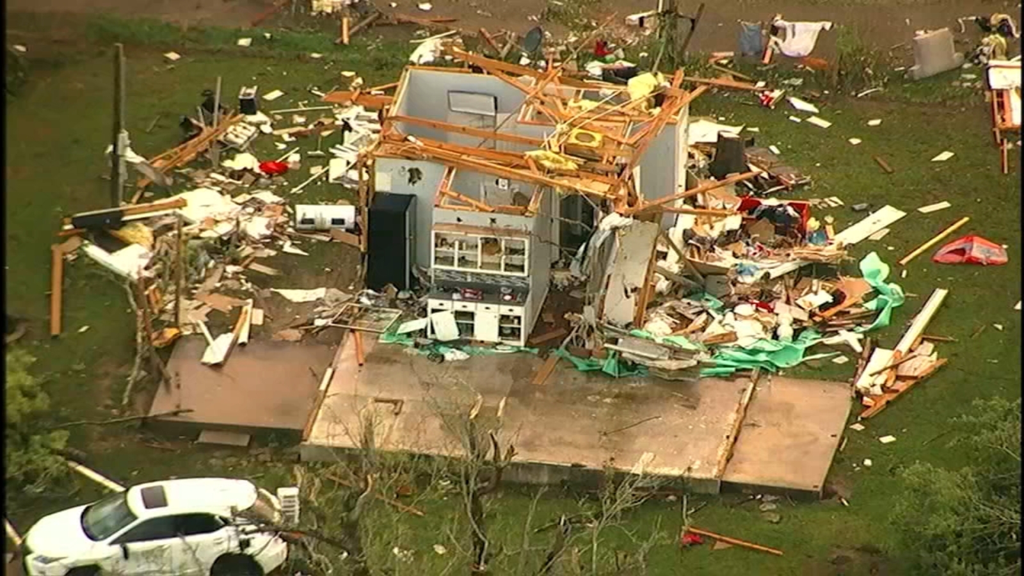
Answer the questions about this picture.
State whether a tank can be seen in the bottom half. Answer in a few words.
No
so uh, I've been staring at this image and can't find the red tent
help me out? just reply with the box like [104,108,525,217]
[933,233,1009,265]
